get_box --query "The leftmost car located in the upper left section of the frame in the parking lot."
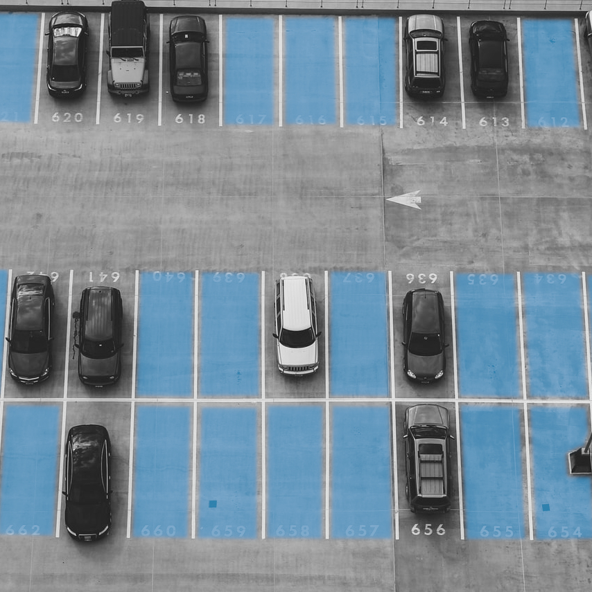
[43,14,92,98]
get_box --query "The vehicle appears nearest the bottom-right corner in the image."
[402,404,456,512]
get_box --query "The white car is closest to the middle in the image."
[269,276,325,378]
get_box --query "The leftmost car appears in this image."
[2,277,58,384]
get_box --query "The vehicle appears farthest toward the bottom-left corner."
[58,425,116,542]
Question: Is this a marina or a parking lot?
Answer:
parking lot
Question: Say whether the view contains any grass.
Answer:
No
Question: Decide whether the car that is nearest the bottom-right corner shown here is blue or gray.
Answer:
gray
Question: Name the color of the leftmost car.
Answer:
black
